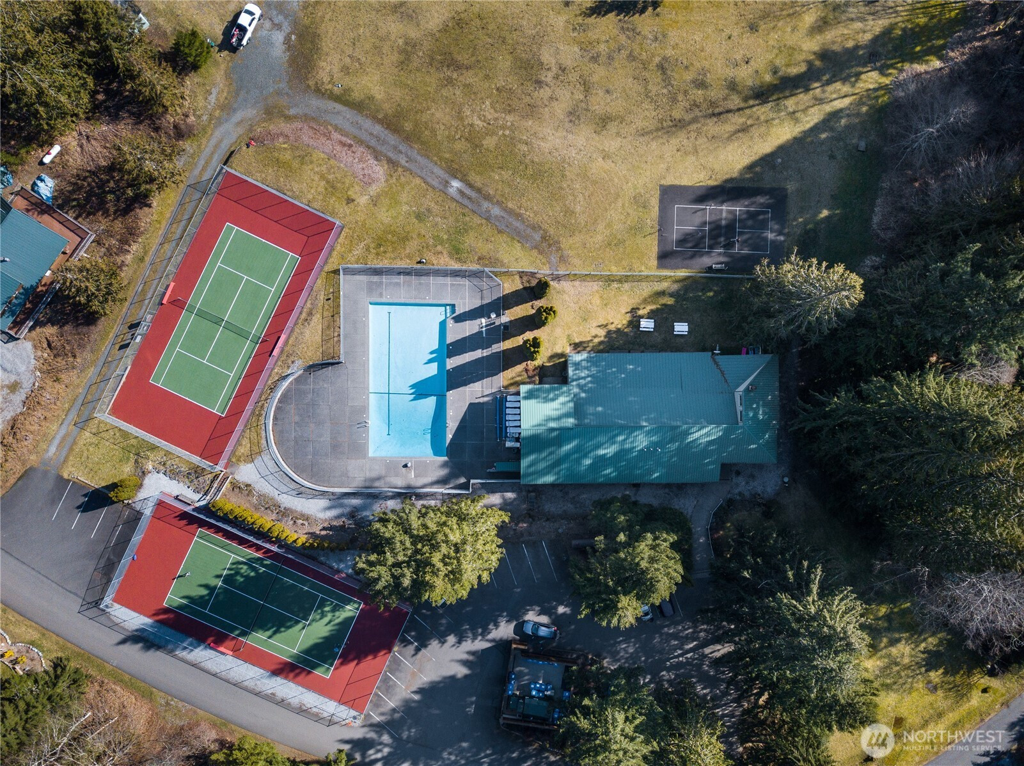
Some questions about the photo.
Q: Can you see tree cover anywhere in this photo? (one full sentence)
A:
Yes, some tree cover is visible.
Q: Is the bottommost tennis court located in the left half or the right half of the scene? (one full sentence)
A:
The bottommost tennis court is on the left side of the image.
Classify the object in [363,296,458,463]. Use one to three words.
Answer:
swimming pool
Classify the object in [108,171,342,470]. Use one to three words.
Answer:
tennis court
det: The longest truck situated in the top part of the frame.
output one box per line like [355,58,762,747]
[231,5,259,53]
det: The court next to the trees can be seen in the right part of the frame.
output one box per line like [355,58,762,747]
[657,185,787,271]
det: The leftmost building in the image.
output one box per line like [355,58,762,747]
[0,181,99,341]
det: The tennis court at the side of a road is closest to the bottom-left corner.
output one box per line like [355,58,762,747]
[113,492,409,714]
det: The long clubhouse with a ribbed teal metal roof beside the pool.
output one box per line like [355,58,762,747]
[495,352,782,484]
